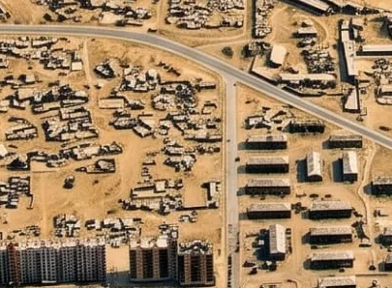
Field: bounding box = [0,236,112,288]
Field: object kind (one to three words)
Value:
building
